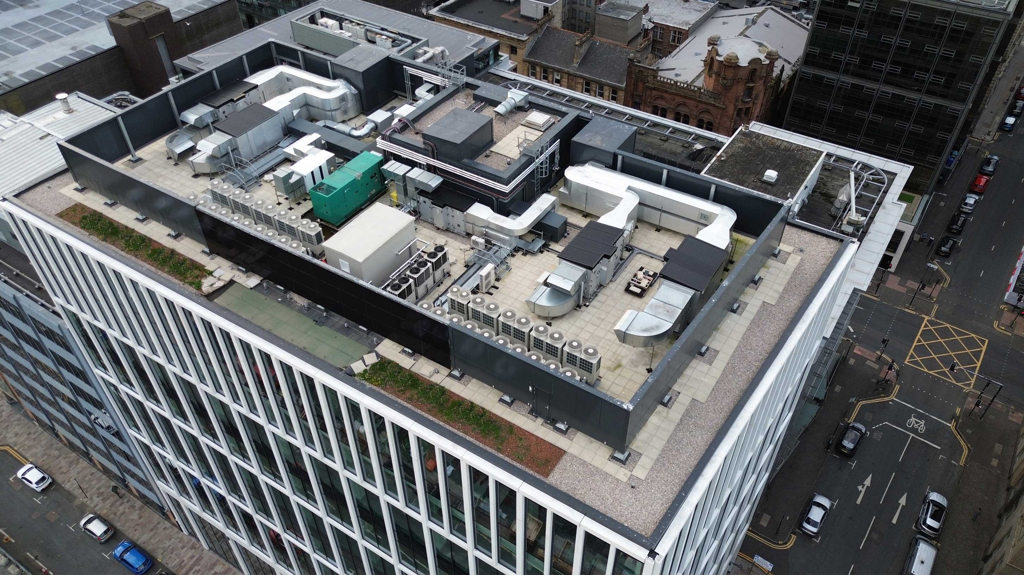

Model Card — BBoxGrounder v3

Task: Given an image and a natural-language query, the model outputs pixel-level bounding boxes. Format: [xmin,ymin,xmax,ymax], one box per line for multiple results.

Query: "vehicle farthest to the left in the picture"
[15,461,53,493]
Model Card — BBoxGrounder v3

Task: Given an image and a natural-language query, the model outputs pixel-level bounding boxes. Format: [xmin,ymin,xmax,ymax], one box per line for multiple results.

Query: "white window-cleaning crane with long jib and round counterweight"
[820,172,862,239]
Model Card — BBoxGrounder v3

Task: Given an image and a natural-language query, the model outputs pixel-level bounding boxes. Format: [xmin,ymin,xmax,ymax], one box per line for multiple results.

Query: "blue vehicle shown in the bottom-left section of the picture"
[109,537,153,575]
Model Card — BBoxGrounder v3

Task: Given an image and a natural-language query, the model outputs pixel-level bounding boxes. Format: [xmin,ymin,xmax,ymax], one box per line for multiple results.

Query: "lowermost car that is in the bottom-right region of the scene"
[900,537,936,575]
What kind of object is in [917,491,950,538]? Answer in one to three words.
car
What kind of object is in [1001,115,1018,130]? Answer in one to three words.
car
